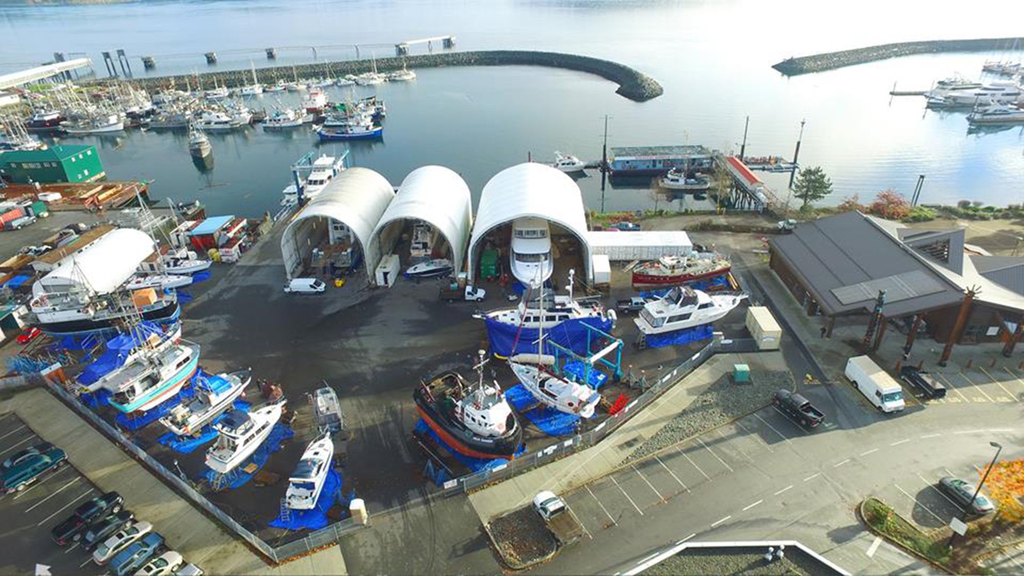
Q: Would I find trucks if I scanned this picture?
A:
Yes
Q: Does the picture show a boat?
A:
Yes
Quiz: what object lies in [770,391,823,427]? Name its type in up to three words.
truck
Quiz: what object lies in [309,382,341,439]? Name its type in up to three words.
boat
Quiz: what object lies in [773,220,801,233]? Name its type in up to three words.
vehicle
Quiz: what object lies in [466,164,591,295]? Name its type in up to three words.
shed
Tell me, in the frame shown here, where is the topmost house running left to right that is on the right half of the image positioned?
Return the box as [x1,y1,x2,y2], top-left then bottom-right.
[606,142,719,177]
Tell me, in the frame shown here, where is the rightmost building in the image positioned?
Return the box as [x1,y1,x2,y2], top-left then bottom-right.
[769,209,1024,354]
